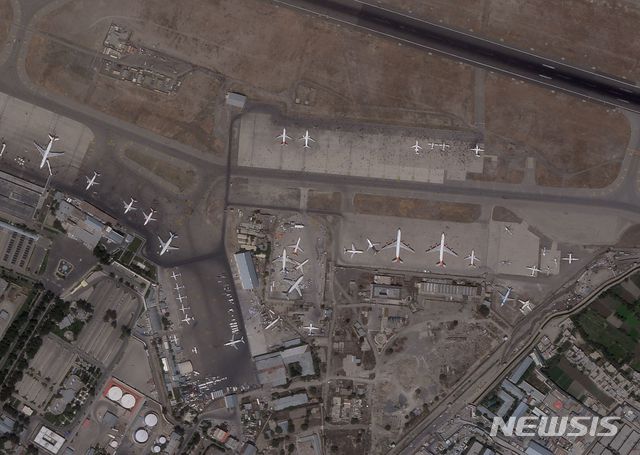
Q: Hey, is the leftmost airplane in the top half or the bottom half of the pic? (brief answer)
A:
top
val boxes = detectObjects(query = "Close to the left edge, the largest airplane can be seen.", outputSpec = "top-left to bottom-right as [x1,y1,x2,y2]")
[32,136,62,168]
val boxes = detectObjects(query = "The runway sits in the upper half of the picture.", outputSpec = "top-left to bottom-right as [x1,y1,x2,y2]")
[269,0,640,112]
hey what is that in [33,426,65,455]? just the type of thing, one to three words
building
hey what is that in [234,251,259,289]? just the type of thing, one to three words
hangar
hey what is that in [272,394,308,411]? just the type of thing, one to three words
building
